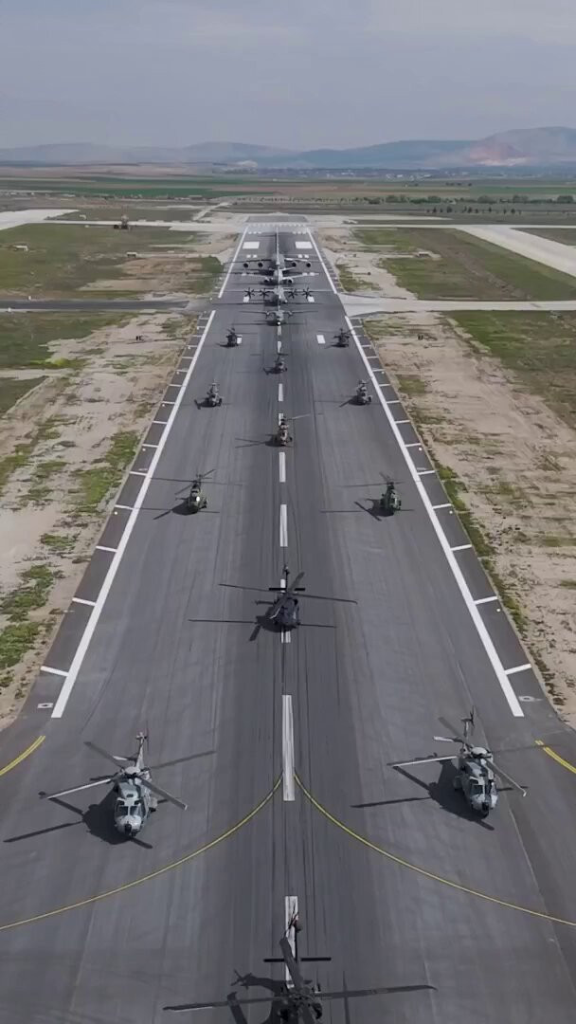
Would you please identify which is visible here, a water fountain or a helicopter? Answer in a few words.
helicopter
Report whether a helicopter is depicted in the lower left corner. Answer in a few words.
Yes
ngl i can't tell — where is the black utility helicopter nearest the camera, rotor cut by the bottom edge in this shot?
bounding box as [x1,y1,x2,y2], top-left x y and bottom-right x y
[163,895,434,1024]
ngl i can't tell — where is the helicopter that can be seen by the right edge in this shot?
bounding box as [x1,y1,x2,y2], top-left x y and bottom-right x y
[392,702,562,818]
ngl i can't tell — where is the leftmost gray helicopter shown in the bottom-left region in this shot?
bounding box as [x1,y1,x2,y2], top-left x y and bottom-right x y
[44,719,214,840]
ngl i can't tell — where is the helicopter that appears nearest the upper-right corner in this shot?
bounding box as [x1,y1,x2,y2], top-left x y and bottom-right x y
[318,321,359,342]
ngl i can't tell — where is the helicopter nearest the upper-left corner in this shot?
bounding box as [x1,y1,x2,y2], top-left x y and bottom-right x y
[216,321,255,342]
